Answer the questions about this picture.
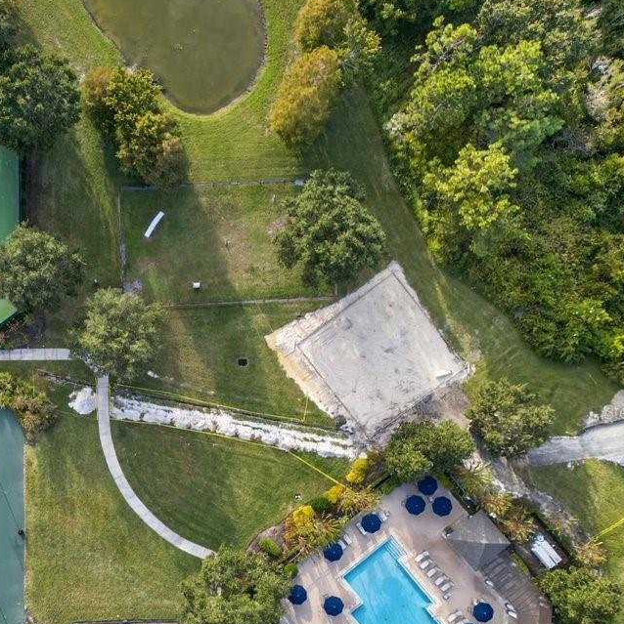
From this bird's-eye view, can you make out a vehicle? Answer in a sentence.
No, the frame has no vehicle in it.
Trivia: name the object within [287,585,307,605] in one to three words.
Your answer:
umbrella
